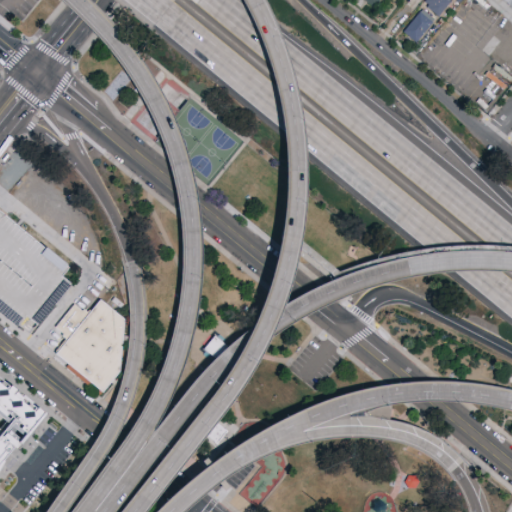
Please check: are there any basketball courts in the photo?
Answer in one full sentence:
Yes, the frame does contain a basketball court.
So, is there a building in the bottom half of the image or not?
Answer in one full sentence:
Yes, the scene does show a building in the bottom half of the image.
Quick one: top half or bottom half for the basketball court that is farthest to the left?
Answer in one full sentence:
Seen from above, the basketball court that is farthest to the left lies in the top half of the view.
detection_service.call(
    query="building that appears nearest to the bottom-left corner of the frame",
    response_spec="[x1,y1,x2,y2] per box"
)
[0,374,48,472]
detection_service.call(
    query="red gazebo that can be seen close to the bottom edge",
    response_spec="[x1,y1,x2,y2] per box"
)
[404,475,420,488]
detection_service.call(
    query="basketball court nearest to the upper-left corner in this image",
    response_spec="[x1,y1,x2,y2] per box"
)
[152,98,244,185]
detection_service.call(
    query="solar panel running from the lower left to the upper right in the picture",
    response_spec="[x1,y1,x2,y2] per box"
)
[34,280,70,322]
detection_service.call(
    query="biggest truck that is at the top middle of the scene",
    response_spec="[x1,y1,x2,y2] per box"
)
[192,48,216,68]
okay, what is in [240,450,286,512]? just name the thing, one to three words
playground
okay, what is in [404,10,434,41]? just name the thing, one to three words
house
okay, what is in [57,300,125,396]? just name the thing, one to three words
building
